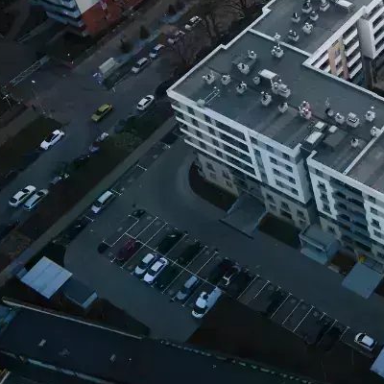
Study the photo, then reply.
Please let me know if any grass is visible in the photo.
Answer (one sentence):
Yes, some grass is visible.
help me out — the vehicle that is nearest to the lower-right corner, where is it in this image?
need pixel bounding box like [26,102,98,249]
[352,330,381,355]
